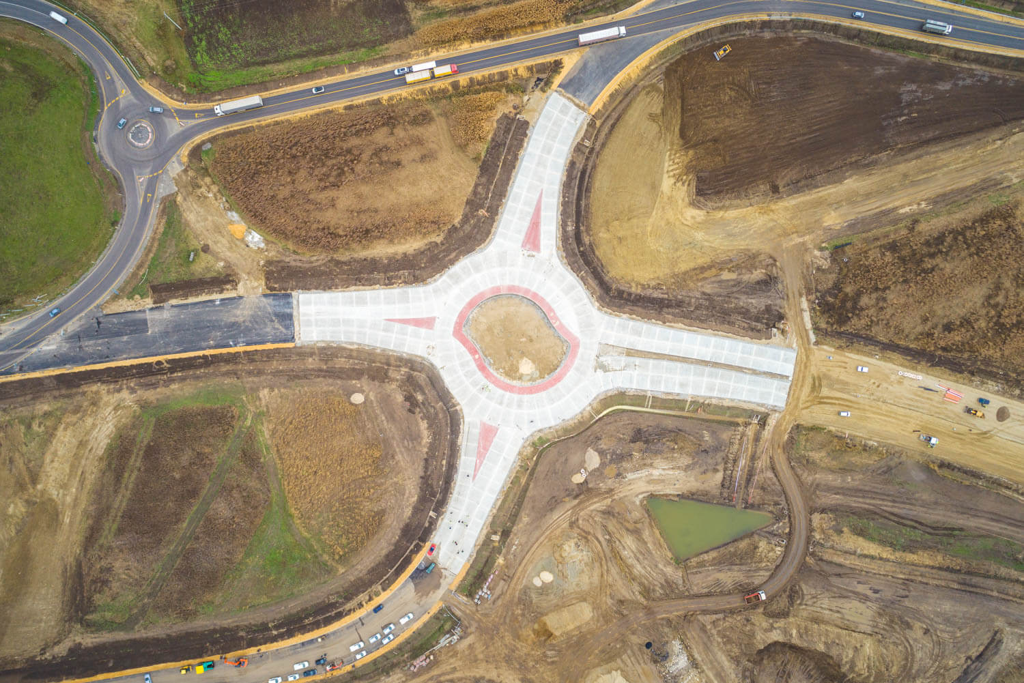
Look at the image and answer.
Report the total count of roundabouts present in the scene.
2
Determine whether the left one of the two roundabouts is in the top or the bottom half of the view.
top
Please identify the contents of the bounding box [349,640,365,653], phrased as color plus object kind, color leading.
white vehicle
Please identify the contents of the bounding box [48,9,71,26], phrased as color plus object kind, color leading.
white vehicle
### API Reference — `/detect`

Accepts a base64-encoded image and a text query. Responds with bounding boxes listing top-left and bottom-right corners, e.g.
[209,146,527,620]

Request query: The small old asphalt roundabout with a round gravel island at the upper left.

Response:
[99,86,192,179]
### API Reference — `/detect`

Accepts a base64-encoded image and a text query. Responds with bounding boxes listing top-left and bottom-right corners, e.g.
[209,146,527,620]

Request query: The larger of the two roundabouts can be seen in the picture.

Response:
[386,190,627,481]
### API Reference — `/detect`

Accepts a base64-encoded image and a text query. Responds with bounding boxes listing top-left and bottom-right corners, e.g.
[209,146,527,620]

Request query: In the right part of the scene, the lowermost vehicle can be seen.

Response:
[744,591,766,605]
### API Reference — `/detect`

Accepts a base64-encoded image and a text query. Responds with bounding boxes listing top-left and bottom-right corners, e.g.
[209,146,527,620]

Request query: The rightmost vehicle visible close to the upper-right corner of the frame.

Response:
[920,20,952,36]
